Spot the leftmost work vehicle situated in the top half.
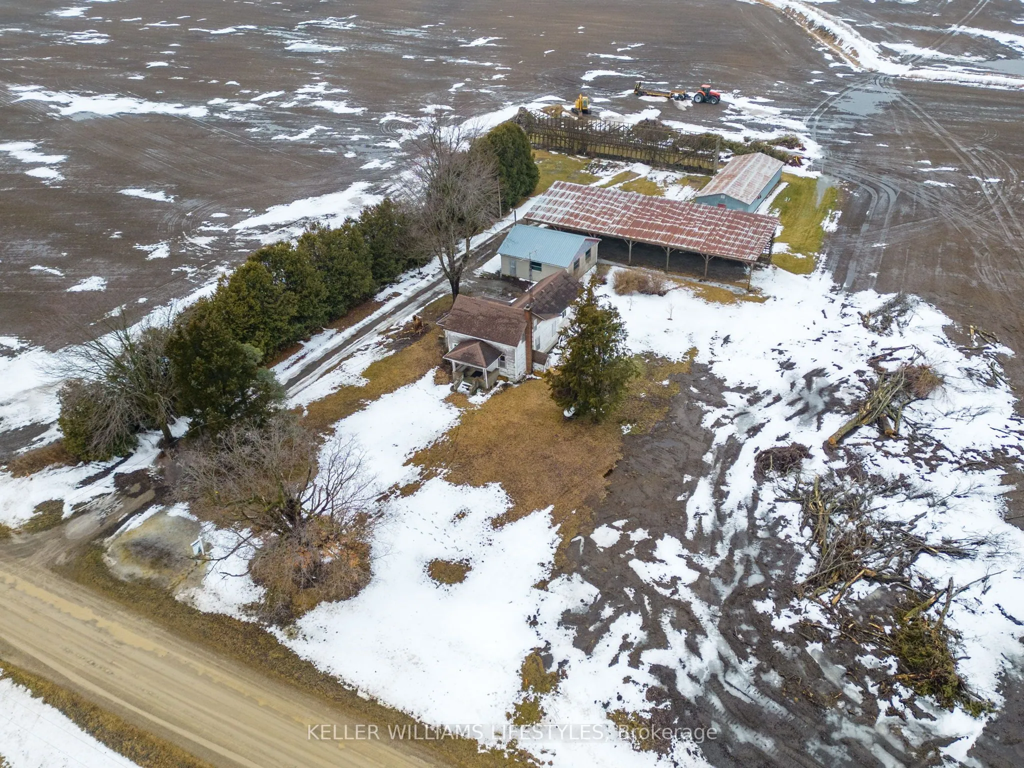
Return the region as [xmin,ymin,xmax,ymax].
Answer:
[573,87,591,116]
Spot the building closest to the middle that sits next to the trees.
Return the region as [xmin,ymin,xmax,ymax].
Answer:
[434,268,586,394]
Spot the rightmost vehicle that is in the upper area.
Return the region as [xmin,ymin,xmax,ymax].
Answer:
[696,85,724,105]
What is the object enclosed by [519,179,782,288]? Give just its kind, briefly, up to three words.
shed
